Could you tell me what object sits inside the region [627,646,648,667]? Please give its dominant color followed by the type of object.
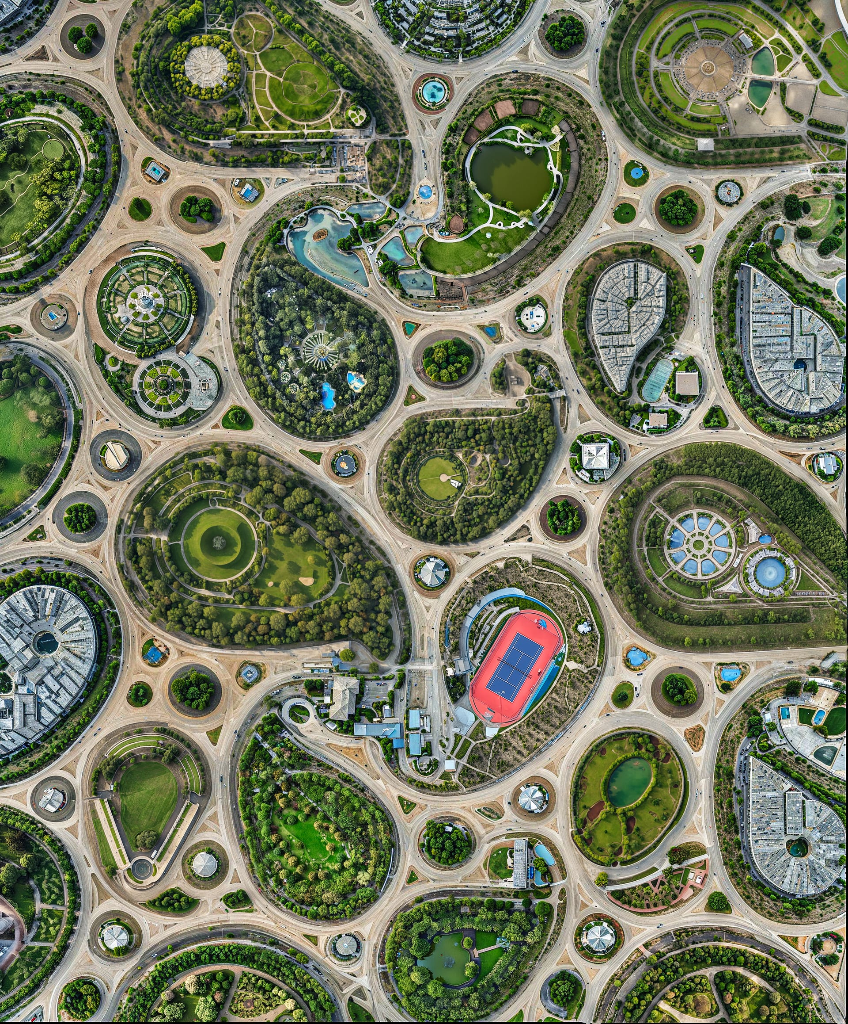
blue swimming pool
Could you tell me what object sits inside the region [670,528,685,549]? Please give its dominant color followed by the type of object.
blue swimming pool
